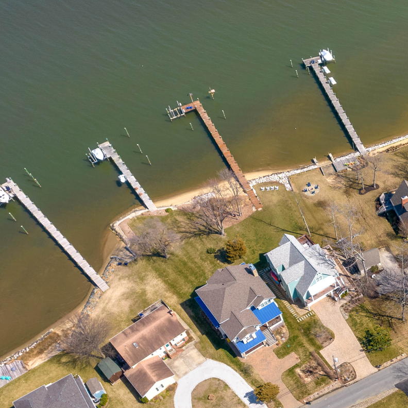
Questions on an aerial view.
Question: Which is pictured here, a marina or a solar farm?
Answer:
marina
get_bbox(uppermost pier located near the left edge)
[0,177,108,293]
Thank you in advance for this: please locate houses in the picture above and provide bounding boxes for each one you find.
[110,297,188,400]
[263,230,353,312]
[194,261,285,361]
[378,185,408,226]
[3,373,97,408]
